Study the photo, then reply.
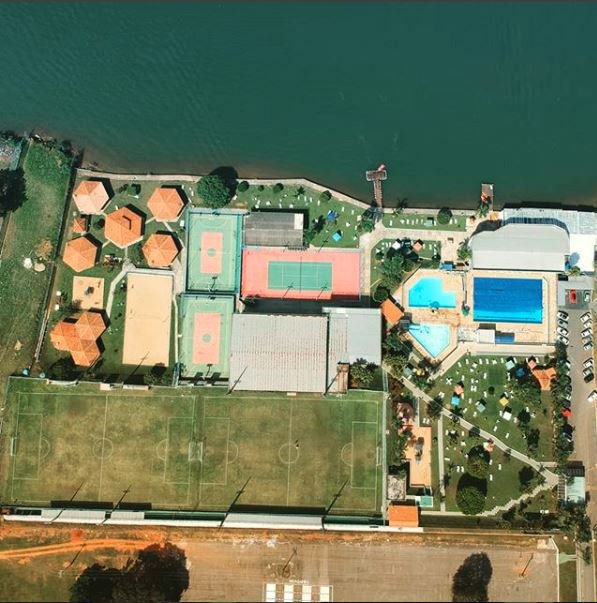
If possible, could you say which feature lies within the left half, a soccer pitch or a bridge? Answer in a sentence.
What appears within the left half is a soccer pitch.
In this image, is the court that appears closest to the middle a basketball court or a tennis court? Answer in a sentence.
The court that appears closest to the middle can be classified as a tennis court.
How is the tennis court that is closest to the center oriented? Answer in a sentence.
Seen from above, the tennis court that is closest to the center lies from side to side.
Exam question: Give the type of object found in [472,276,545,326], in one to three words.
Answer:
swimming pool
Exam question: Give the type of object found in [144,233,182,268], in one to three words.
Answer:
gazebo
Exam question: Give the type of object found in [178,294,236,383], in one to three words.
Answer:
sports court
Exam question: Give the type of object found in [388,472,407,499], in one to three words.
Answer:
building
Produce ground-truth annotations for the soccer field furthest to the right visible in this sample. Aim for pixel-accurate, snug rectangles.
[196,392,384,519]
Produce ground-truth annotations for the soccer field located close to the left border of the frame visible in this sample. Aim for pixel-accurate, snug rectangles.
[1,377,200,512]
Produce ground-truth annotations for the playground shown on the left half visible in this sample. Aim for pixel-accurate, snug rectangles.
[72,276,104,310]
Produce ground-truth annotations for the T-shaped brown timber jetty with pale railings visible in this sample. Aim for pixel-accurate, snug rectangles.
[366,170,387,209]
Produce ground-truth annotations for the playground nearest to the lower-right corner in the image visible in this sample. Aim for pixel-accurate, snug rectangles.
[404,424,432,486]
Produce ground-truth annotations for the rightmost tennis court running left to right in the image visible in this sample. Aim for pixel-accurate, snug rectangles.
[241,248,360,300]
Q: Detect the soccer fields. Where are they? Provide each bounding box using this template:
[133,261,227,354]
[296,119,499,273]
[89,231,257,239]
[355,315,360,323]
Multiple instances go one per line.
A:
[1,377,200,512]
[196,392,384,519]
